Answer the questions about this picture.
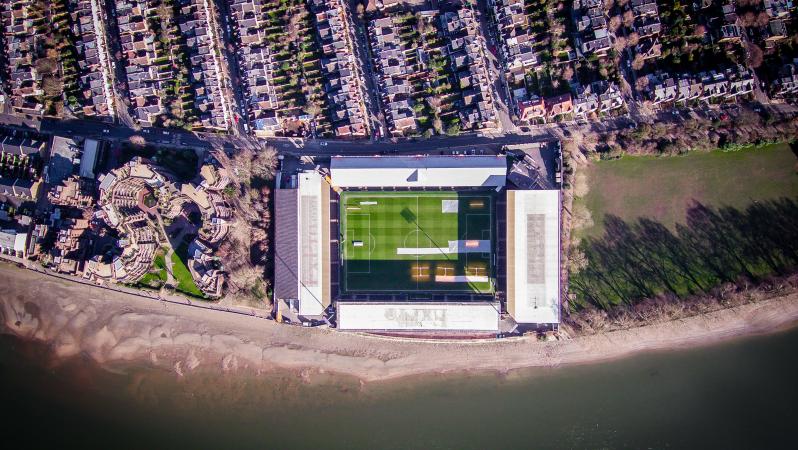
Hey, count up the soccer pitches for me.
1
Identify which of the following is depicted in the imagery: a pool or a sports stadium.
sports stadium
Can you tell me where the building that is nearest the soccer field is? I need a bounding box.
[507,161,541,190]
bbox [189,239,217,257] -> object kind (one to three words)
building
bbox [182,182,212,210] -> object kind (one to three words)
building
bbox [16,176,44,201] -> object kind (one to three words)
house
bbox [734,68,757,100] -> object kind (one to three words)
house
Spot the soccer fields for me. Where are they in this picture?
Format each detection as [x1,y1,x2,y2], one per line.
[341,190,500,296]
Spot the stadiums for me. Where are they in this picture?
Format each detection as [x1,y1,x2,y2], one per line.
[275,155,561,330]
